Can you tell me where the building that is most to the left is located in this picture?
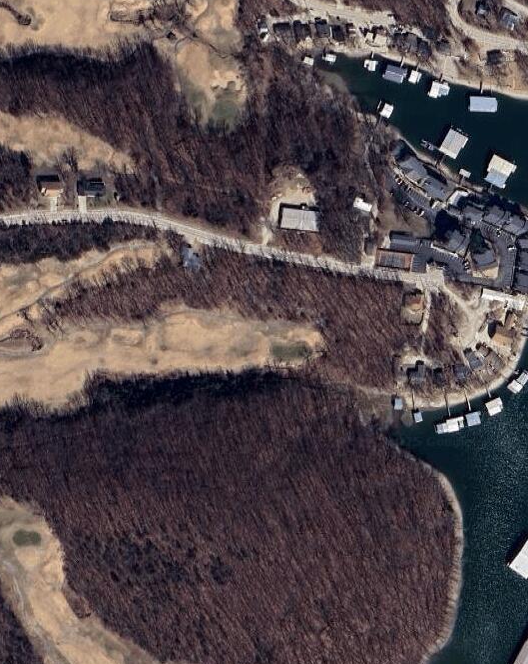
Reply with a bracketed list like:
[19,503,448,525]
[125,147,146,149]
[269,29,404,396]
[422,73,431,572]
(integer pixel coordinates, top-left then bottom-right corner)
[39,178,61,196]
